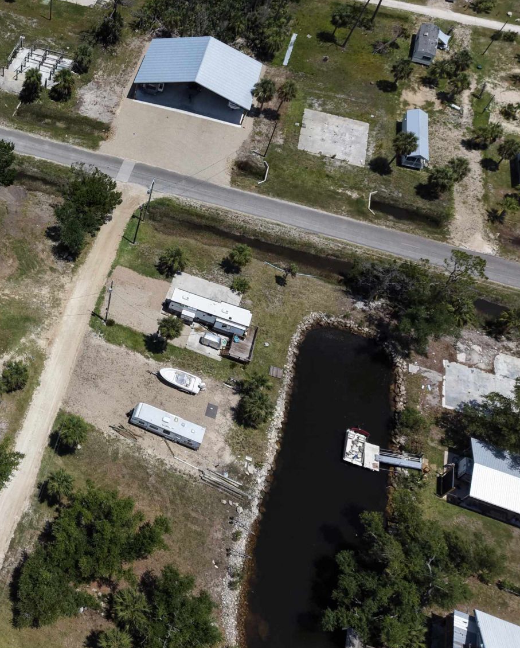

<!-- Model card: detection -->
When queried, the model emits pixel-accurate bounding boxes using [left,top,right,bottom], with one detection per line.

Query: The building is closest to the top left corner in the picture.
[132,32,264,130]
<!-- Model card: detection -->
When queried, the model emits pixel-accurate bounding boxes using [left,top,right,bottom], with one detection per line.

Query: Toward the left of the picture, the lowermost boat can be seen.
[148,369,206,397]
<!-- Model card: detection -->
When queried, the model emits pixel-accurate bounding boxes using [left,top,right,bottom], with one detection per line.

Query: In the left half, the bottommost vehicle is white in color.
[124,403,207,451]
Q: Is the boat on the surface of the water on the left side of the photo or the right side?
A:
right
